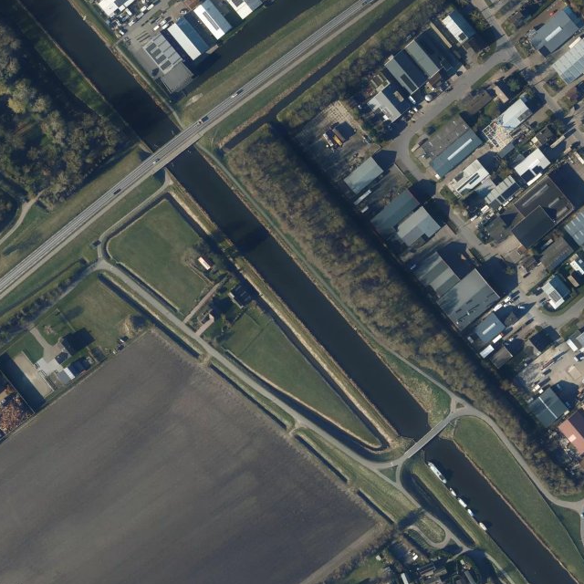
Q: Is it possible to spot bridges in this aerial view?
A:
Yes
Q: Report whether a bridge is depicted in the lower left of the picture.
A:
No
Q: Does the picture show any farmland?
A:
Yes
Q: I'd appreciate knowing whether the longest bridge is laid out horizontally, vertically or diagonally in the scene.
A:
diagonally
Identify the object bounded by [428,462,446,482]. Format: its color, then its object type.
white boat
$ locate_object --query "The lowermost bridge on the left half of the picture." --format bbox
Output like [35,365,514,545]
[140,123,203,179]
